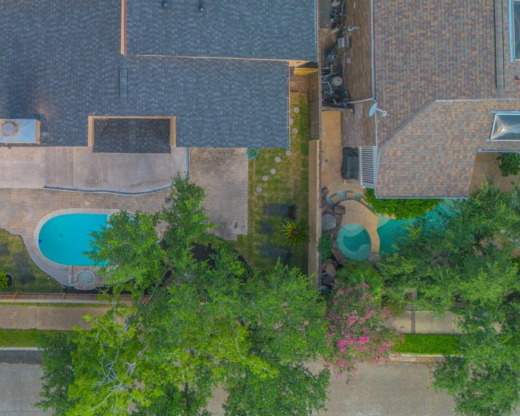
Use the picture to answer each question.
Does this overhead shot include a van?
No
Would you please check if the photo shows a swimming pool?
Yes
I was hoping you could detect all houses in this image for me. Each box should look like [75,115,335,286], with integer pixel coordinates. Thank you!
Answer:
[0,0,319,154]
[350,0,520,204]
